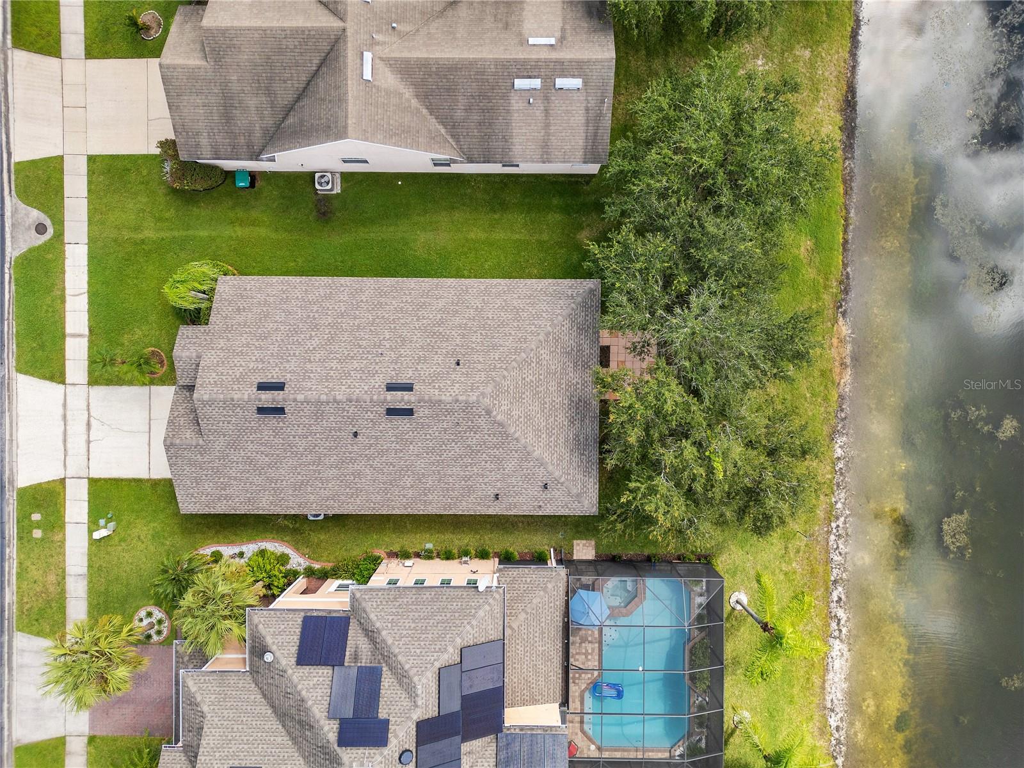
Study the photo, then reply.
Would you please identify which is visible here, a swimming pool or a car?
swimming pool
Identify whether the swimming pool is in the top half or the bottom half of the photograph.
bottom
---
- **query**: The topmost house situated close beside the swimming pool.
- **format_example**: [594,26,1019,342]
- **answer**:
[164,276,600,515]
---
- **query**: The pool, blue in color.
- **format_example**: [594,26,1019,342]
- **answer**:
[580,579,695,752]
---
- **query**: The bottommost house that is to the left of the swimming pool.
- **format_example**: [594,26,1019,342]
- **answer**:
[158,546,570,768]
